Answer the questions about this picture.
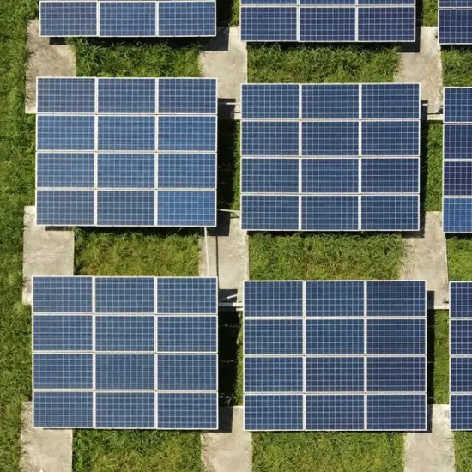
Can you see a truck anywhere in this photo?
No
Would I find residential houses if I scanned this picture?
No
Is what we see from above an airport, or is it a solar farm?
solar farm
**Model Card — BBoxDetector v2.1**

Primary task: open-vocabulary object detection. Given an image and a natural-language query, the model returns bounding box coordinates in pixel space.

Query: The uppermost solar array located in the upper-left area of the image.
[39,0,217,37]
